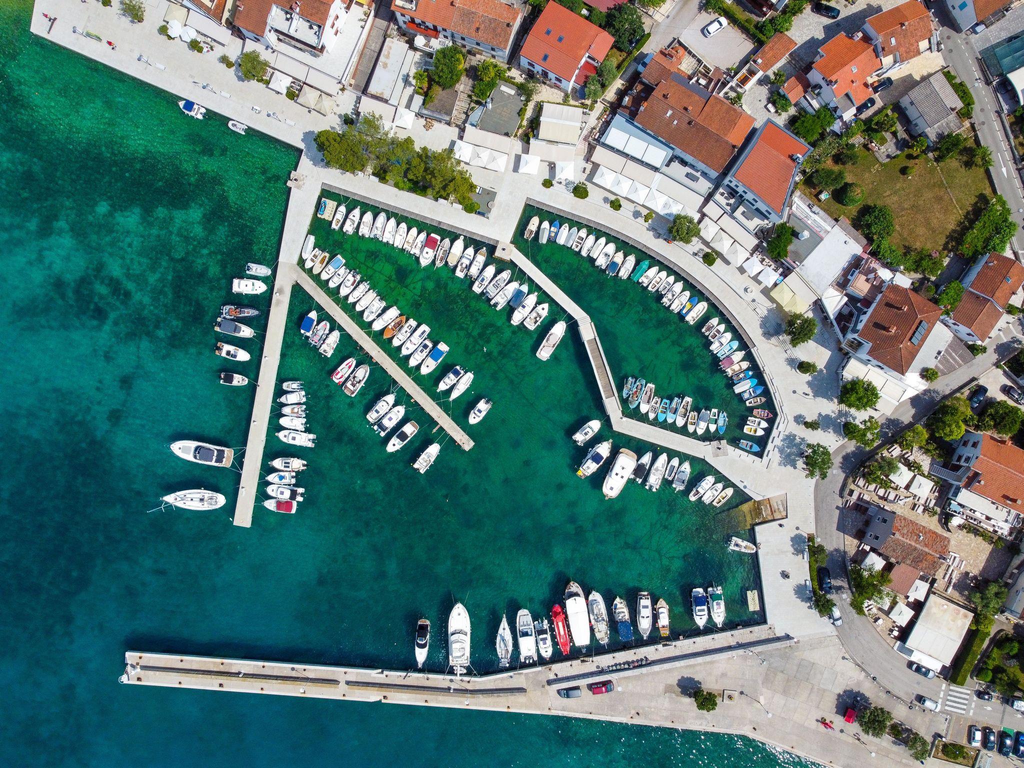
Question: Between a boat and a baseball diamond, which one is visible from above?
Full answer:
Of the two, only a boat appears.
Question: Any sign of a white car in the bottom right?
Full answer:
Yes, a white car shows up in the bottom right.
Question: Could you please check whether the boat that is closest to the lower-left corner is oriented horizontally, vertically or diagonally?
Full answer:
The boat that is closest to the lower-left corner has been laid out horizontally relative to the frame.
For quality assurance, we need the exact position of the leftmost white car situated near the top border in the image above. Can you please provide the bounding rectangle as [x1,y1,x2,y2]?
[703,16,728,40]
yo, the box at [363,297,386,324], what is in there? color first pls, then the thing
white boat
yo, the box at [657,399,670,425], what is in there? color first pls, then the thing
blue boat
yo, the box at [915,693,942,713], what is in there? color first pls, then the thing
white car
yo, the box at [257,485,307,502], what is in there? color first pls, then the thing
white boat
